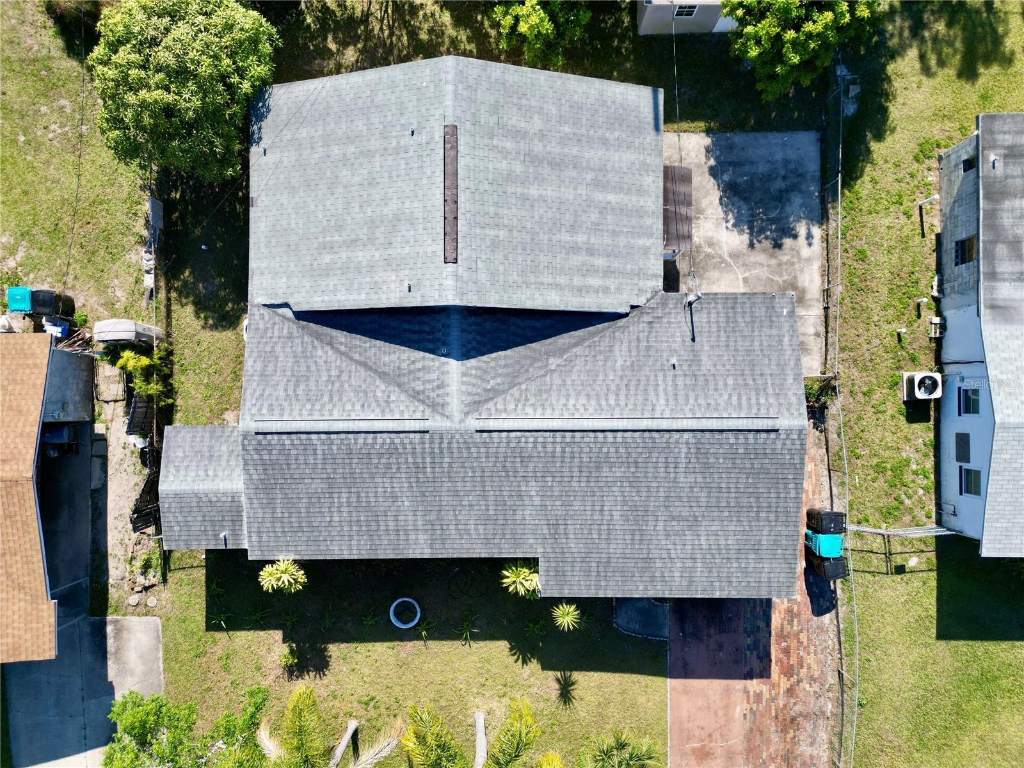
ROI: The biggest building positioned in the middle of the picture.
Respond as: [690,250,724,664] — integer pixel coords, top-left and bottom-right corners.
[159,55,807,597]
